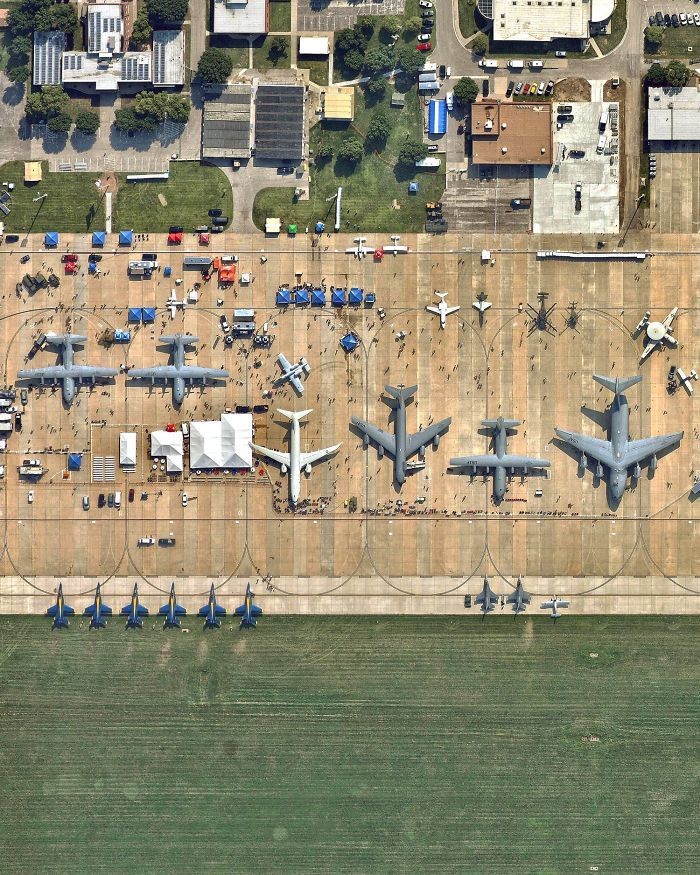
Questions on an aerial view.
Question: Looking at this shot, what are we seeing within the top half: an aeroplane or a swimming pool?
aeroplane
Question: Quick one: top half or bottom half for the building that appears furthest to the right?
top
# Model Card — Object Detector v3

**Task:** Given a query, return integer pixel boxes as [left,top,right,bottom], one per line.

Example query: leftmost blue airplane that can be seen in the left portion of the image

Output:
[46,582,74,628]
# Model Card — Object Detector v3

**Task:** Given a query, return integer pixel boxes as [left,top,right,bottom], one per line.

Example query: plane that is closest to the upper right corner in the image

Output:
[635,307,677,360]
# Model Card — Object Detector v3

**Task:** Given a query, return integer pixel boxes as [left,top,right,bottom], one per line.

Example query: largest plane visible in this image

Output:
[555,373,685,499]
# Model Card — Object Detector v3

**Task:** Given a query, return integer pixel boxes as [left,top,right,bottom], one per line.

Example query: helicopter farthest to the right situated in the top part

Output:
[562,303,583,328]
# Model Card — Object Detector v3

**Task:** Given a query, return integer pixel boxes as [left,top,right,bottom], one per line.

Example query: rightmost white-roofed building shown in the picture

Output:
[648,85,700,140]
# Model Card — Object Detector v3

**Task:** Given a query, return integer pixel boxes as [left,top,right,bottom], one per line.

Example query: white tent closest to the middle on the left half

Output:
[221,412,255,467]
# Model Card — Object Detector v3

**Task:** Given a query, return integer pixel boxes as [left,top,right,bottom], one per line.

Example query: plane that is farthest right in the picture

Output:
[678,367,698,393]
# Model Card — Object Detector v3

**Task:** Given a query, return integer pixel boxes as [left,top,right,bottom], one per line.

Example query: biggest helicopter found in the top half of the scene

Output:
[527,294,557,332]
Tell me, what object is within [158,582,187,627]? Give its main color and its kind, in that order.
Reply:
blue airplane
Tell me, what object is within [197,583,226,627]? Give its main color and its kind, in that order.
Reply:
blue airplane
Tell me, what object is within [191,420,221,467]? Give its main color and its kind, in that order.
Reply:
white tent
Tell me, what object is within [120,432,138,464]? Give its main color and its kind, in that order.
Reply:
white tent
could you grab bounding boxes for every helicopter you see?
[562,303,583,328]
[527,294,557,332]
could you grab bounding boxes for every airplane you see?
[426,291,460,329]
[271,352,310,393]
[84,582,112,628]
[46,582,74,628]
[473,291,491,326]
[350,381,450,484]
[250,408,342,504]
[382,236,409,255]
[555,373,685,499]
[121,583,150,628]
[345,234,374,257]
[128,331,228,403]
[197,583,226,627]
[450,417,550,497]
[17,331,117,403]
[508,575,532,614]
[158,582,187,627]
[678,367,698,393]
[635,307,677,360]
[475,576,499,614]
[166,291,186,316]
[234,583,263,628]
[539,596,569,617]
